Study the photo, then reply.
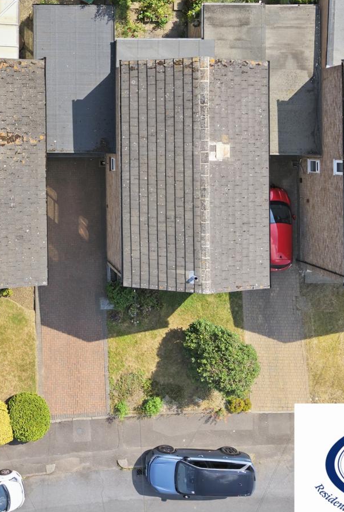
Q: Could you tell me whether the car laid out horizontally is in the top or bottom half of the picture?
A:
bottom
